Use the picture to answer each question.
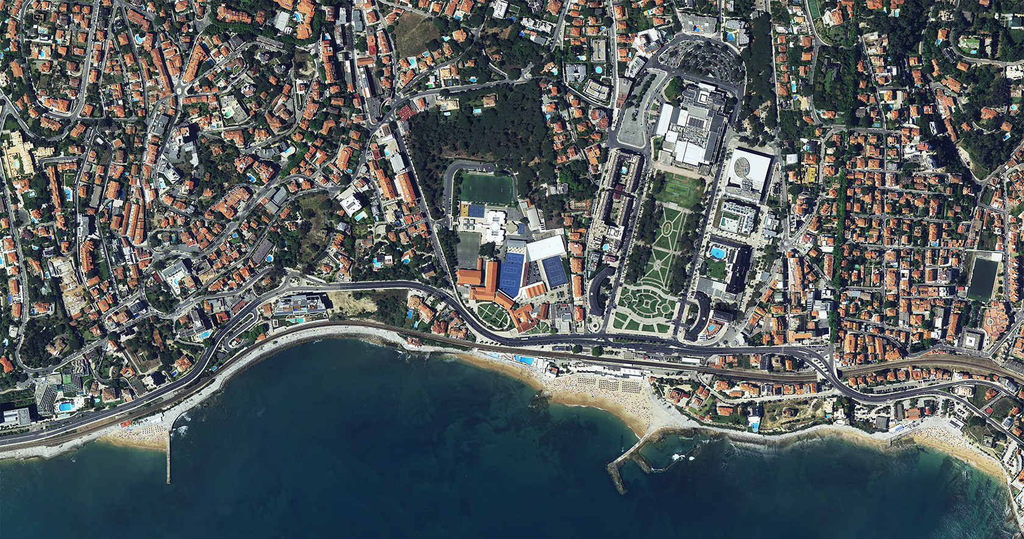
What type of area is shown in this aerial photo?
residential area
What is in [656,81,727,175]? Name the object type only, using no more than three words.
building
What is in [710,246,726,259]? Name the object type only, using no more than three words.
swimming pool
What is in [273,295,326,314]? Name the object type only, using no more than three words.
building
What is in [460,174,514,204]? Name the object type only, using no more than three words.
soccer field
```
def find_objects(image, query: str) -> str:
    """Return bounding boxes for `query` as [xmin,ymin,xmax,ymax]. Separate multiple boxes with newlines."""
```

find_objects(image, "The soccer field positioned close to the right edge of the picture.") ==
[967,256,1000,303]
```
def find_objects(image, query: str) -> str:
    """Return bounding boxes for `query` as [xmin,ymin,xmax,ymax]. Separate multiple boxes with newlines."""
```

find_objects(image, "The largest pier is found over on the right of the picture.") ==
[607,431,650,493]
